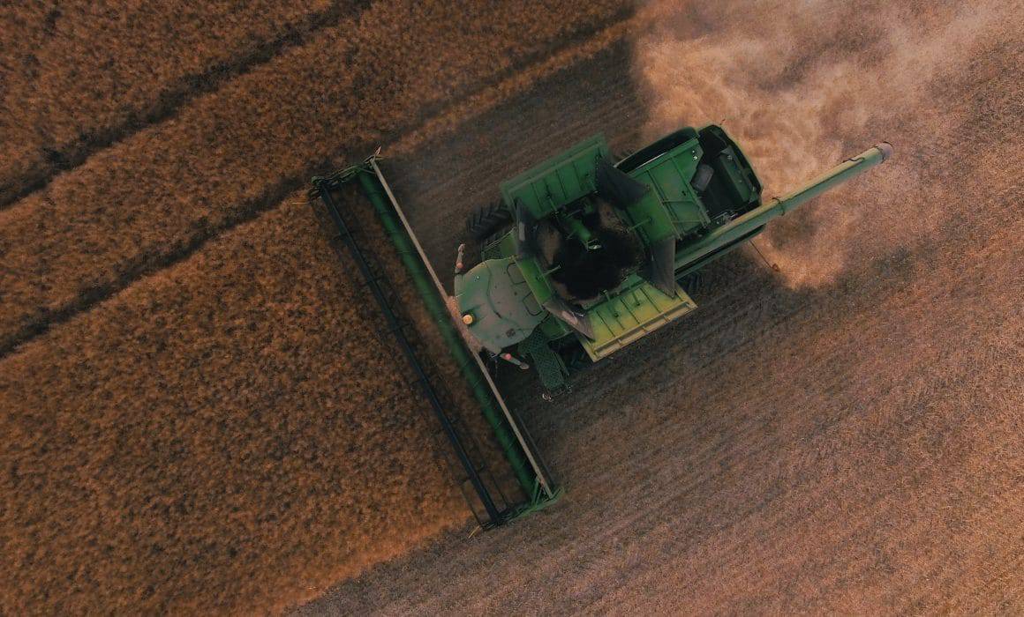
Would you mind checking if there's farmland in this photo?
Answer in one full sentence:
Yes, there is farmland in the image.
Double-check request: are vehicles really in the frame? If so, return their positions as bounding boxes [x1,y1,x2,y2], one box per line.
[295,122,893,536]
